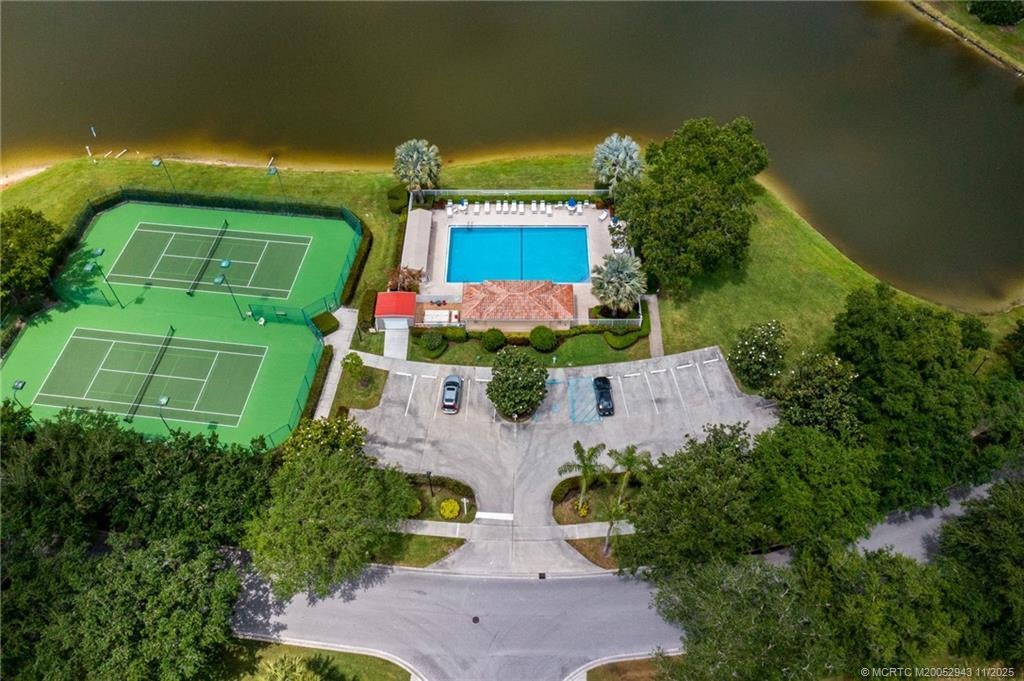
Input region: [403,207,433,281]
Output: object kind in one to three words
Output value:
building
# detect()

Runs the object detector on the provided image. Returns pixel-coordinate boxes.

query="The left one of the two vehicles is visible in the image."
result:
[442,377,463,414]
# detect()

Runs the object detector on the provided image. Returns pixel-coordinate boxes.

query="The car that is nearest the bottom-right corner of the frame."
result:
[593,379,613,416]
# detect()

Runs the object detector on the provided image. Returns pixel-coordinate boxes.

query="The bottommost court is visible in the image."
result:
[0,299,322,459]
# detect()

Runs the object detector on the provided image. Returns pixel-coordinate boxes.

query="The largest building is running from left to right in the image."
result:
[460,279,575,334]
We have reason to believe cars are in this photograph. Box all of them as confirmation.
[593,379,613,416]
[442,377,463,414]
